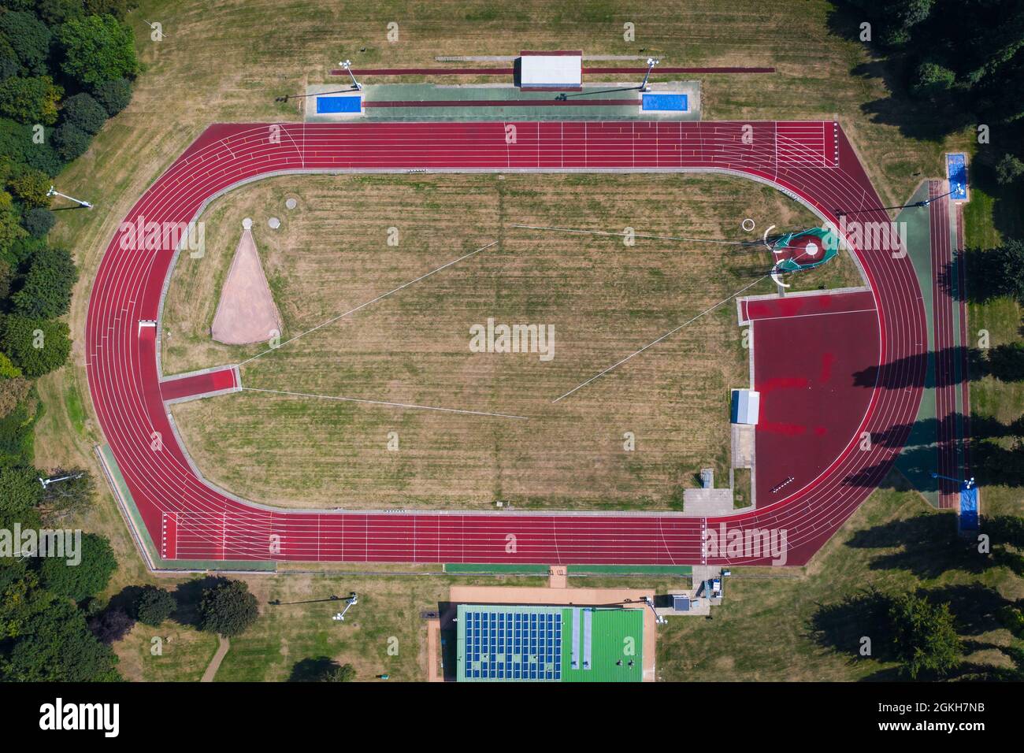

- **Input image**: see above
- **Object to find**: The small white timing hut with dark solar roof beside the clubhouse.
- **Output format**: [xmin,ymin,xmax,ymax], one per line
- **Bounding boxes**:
[674,595,692,614]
